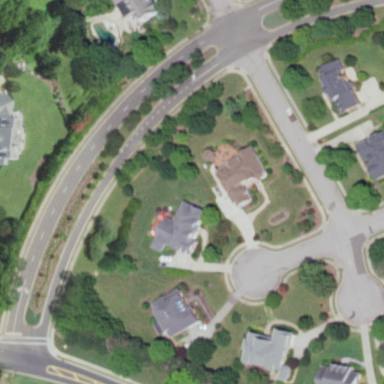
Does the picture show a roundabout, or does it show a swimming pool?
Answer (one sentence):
Of the two, only a swimming pool appears.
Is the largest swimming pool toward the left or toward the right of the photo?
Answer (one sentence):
The largest swimming pool appears in the left half of the scene.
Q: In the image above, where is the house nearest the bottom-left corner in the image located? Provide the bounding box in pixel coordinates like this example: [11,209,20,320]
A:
[152,289,198,337]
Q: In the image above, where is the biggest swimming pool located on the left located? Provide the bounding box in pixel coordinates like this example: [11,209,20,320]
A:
[92,22,120,50]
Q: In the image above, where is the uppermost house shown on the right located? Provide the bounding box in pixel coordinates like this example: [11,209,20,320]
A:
[316,58,358,114]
